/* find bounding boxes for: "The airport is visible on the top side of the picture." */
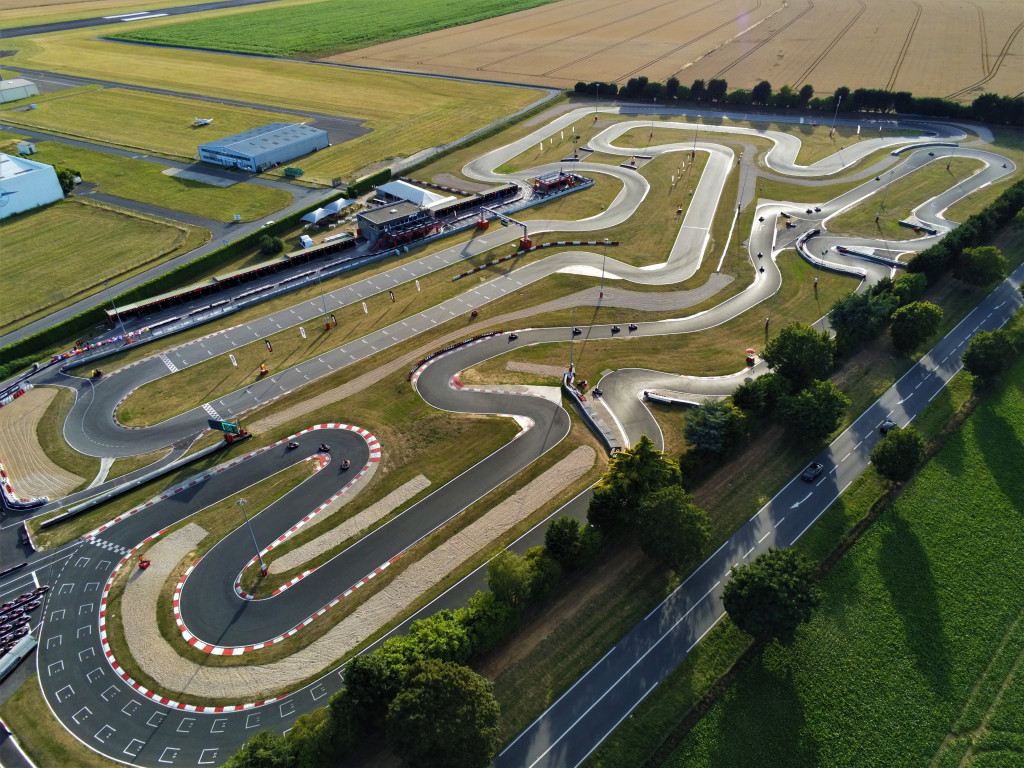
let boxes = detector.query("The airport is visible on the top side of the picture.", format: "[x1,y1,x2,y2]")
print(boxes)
[0,0,548,337]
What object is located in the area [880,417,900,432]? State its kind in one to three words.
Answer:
car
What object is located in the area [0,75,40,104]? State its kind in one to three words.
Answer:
hangar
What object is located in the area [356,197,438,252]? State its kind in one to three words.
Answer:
building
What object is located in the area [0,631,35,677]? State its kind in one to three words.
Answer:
trailer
